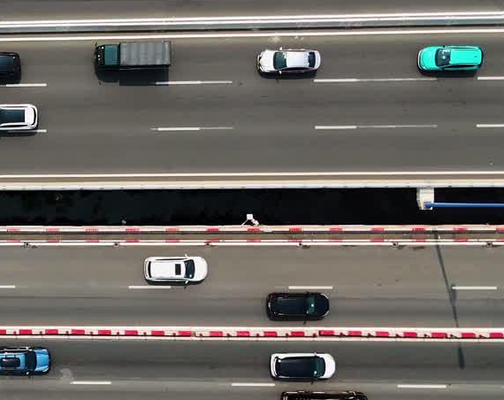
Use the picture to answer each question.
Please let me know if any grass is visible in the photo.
No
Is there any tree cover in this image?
No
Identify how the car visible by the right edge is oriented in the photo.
horizontally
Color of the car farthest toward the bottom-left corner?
blue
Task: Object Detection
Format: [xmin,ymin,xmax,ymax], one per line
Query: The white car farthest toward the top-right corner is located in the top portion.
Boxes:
[255,46,319,76]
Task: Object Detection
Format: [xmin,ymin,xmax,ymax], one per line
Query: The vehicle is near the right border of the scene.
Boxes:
[414,44,483,75]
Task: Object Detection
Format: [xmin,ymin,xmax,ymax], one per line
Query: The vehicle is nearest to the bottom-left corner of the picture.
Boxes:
[0,346,50,376]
